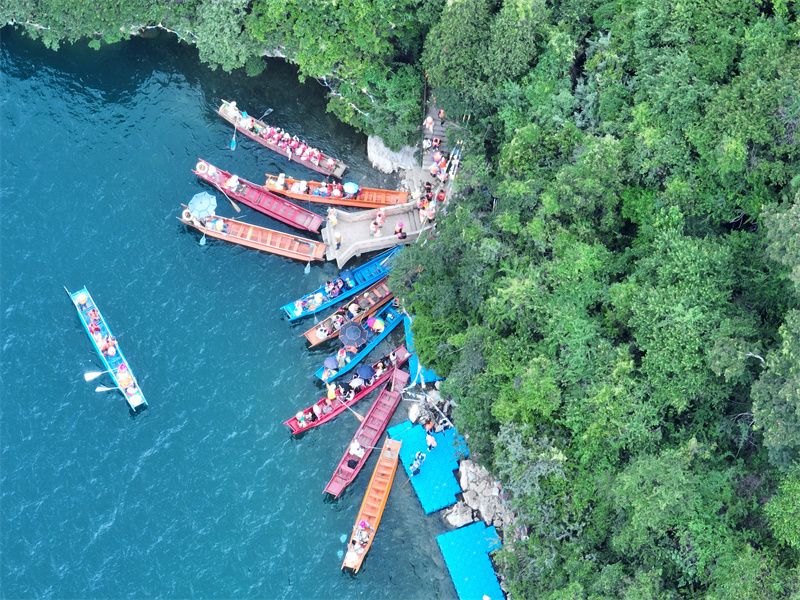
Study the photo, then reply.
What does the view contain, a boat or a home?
boat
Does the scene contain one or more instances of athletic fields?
No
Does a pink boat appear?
Yes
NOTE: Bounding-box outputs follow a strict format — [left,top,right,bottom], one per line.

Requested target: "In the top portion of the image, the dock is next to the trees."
[321,198,440,272]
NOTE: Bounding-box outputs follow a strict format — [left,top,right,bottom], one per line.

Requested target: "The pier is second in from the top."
[399,313,438,390]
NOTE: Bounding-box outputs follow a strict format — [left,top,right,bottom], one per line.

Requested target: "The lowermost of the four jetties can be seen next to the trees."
[436,519,506,600]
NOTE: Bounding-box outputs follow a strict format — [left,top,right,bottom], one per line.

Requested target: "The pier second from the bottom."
[390,417,470,515]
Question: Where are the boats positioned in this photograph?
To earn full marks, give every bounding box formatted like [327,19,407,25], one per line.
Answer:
[280,342,413,434]
[188,156,325,231]
[298,280,400,348]
[319,366,411,504]
[211,97,347,177]
[311,305,406,386]
[66,282,148,410]
[277,248,405,323]
[339,434,405,579]
[259,173,409,205]
[172,204,327,259]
